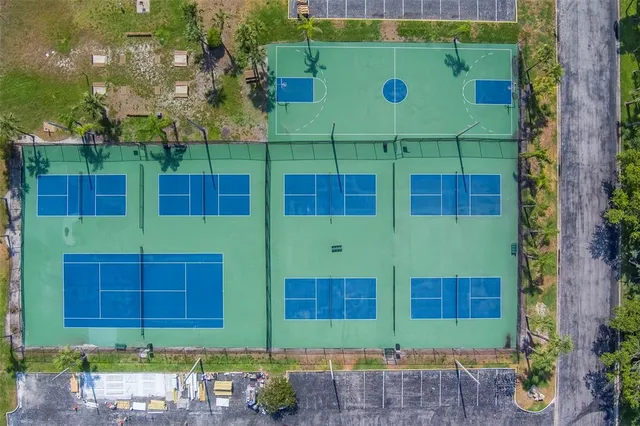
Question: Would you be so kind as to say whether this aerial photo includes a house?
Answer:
No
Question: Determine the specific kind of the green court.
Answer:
basketball court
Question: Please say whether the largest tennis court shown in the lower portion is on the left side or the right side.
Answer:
left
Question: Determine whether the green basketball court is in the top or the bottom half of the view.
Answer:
top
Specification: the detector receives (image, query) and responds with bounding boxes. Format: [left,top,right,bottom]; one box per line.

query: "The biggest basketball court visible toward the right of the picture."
[268,43,518,141]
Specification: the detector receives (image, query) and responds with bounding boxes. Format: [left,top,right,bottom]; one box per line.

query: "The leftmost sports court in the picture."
[37,174,126,216]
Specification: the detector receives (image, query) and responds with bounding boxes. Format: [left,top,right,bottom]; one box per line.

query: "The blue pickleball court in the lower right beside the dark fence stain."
[411,277,501,319]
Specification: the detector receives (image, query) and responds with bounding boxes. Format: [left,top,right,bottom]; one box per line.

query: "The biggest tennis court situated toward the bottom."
[64,254,224,329]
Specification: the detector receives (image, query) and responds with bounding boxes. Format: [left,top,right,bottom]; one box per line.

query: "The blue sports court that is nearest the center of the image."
[284,174,376,216]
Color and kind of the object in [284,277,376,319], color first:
blue sports court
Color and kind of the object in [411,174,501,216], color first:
blue sports court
